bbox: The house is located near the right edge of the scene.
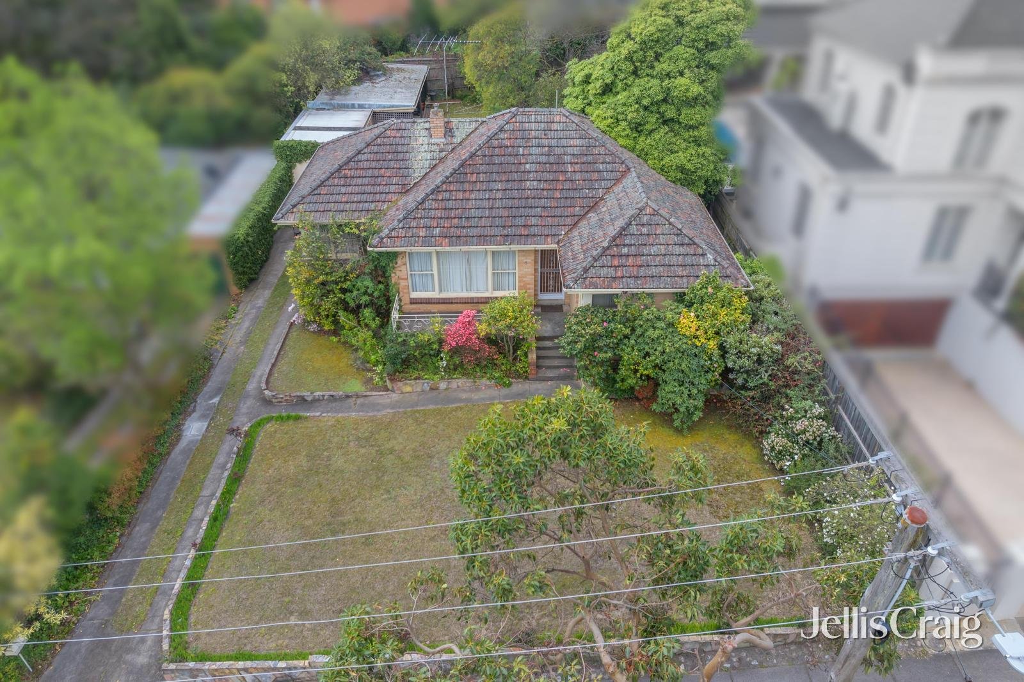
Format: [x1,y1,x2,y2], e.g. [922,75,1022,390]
[740,0,1024,342]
